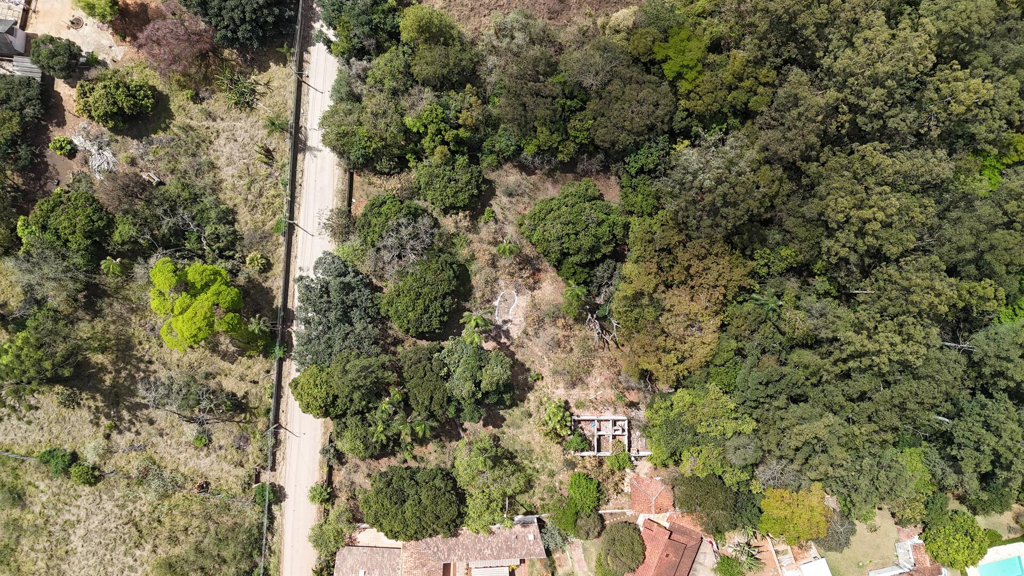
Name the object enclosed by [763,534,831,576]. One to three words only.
house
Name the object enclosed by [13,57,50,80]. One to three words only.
shed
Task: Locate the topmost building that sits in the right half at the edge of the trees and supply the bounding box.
[630,475,675,515]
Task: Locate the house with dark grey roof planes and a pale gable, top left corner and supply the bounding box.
[0,20,35,57]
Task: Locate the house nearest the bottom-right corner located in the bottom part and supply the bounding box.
[865,536,948,576]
